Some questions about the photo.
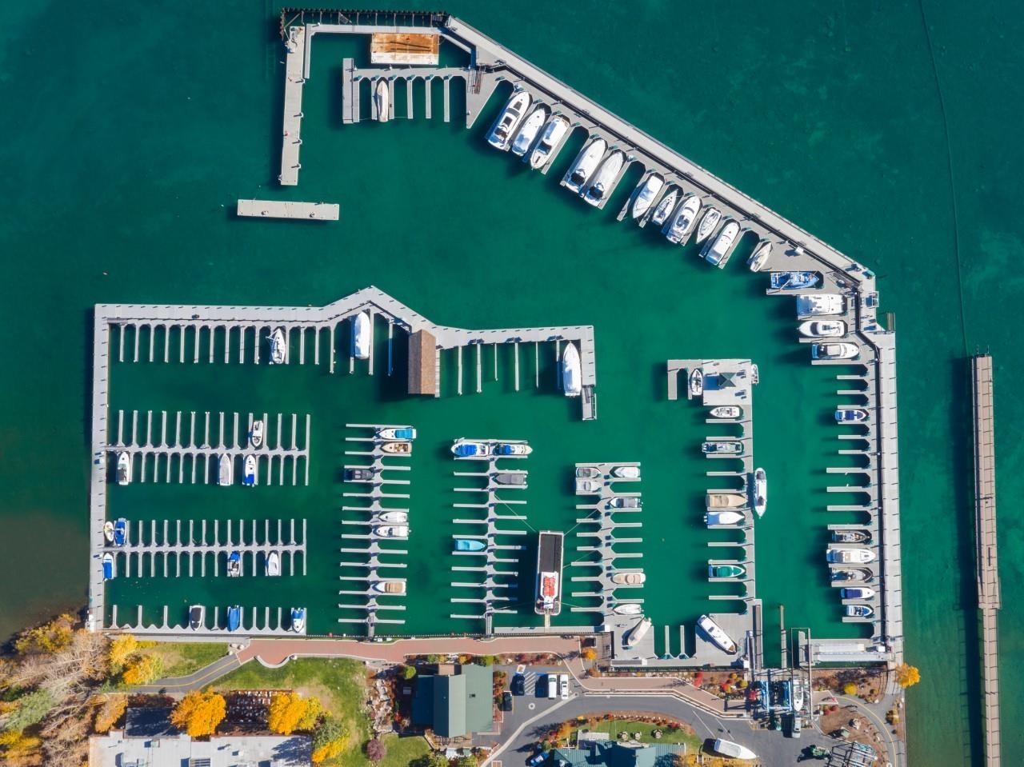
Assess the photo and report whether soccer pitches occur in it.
No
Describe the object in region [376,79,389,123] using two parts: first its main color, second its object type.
white boat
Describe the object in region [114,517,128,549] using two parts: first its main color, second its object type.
blue boat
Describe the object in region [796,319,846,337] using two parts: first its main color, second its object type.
white boat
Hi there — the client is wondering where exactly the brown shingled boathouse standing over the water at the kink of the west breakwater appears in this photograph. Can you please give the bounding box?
[409,328,436,394]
